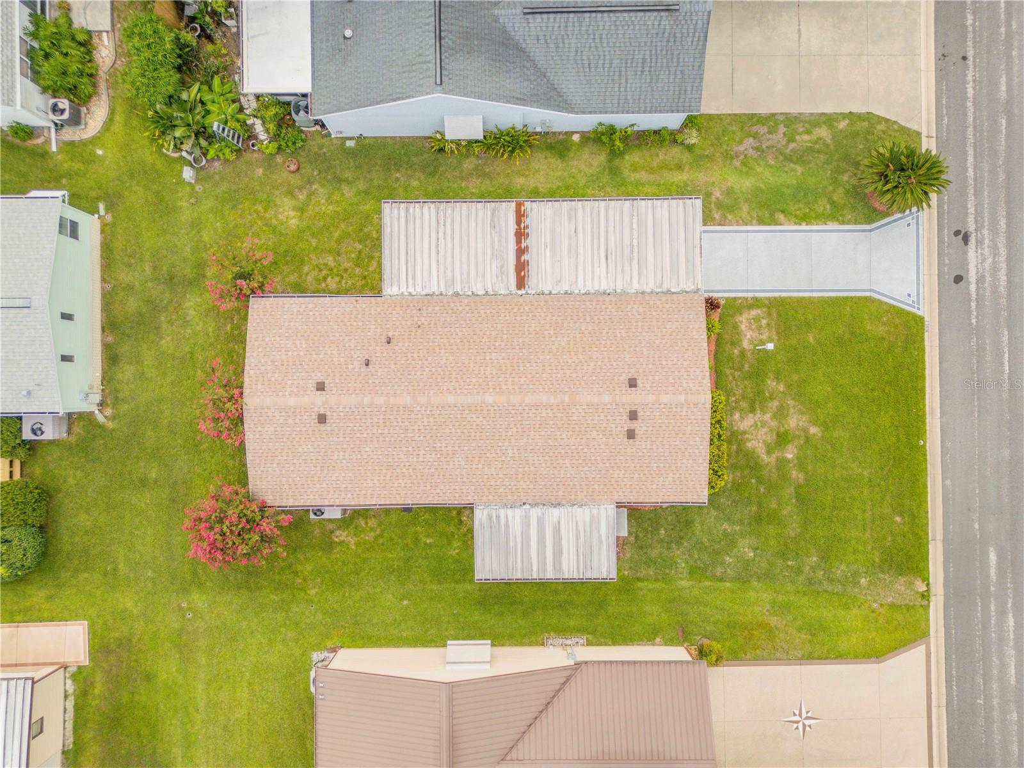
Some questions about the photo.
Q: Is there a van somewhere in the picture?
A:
No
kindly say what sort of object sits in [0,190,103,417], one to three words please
house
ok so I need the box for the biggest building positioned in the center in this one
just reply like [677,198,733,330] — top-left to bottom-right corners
[243,195,712,583]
